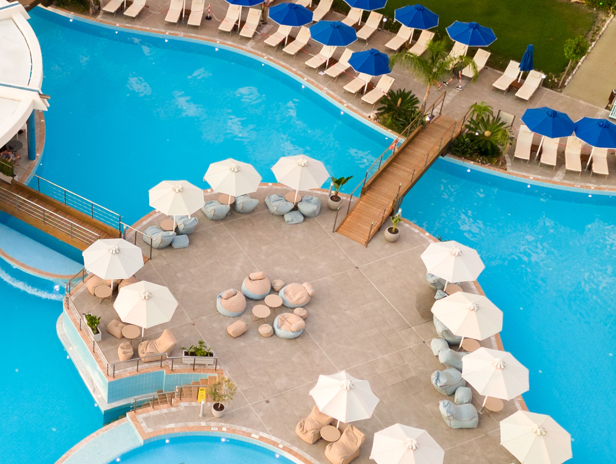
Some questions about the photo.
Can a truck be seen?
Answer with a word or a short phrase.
No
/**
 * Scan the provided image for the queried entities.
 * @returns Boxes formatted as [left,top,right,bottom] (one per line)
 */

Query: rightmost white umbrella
[495,414,568,464]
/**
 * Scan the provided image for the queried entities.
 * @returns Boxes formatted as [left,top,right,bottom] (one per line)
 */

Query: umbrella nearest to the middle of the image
[273,156,329,211]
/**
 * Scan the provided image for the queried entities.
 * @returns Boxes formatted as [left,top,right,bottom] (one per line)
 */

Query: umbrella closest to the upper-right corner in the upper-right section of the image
[514,45,533,92]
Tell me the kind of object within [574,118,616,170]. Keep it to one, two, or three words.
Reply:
umbrella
